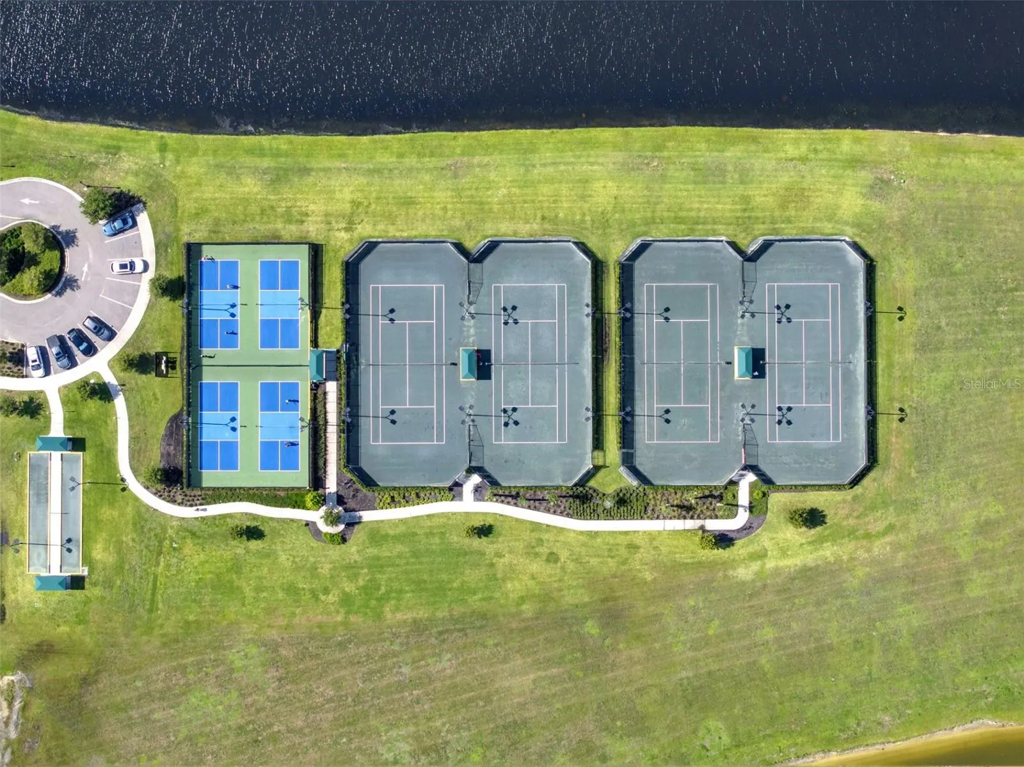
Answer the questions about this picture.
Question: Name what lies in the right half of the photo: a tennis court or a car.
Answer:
tennis court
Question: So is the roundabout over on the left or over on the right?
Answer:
left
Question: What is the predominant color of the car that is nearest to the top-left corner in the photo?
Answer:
blue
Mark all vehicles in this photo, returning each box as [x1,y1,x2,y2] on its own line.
[83,314,113,341]
[44,332,70,371]
[64,327,94,357]
[110,258,143,274]
[24,345,44,379]
[102,213,134,234]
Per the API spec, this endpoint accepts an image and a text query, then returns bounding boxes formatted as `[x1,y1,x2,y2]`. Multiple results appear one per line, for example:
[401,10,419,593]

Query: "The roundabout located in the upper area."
[0,176,144,378]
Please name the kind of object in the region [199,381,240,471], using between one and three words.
sports court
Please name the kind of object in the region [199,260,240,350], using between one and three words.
sports court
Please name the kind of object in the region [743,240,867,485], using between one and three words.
tennis court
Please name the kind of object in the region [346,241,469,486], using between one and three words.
tennis court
